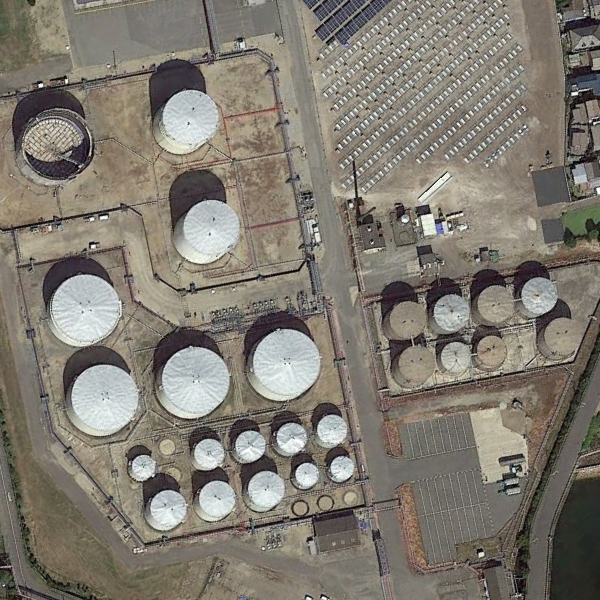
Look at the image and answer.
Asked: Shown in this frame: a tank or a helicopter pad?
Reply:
tank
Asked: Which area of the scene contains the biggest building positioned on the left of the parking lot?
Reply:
bottom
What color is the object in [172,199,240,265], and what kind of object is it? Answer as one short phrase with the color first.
white storage tank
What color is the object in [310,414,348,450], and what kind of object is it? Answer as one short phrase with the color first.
white storage tank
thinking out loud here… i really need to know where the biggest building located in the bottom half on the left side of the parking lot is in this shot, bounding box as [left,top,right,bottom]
[314,514,361,555]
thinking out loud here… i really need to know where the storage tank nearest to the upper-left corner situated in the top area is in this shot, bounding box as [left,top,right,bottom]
[13,106,95,188]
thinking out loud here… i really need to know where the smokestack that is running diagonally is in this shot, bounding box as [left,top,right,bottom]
[357,207,377,223]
